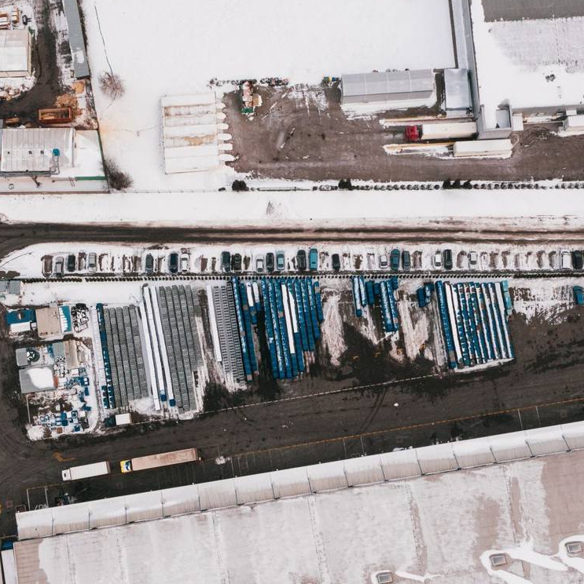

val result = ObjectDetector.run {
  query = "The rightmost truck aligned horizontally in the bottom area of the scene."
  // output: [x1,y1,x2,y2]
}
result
[120,448,202,474]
